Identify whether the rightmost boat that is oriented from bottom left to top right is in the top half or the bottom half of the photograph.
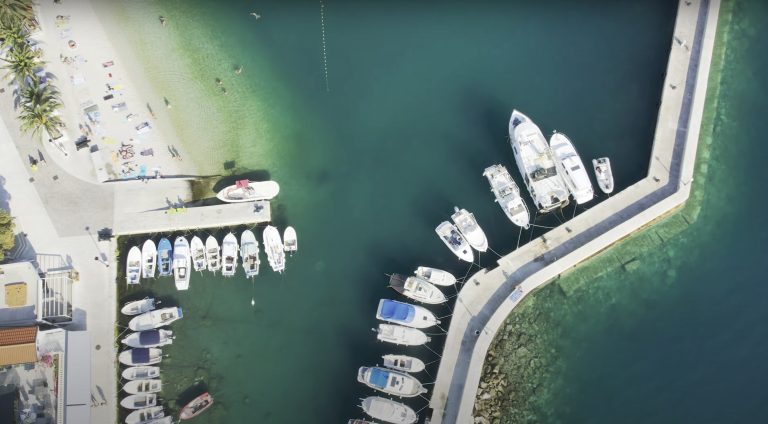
bottom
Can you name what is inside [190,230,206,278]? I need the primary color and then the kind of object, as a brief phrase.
white boat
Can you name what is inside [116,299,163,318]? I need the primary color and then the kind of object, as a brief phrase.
white boat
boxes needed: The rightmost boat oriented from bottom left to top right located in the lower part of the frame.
[179,392,218,423]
